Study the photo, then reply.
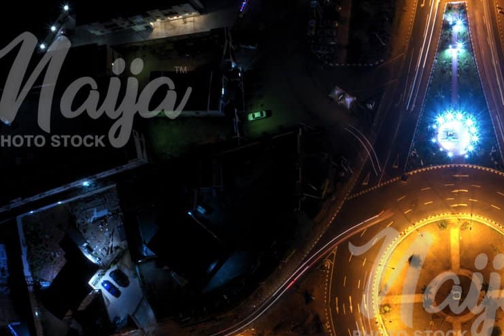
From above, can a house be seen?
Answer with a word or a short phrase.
Yes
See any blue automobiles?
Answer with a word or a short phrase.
Yes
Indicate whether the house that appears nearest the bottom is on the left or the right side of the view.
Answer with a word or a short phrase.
left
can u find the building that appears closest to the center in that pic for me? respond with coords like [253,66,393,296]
[184,142,293,232]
